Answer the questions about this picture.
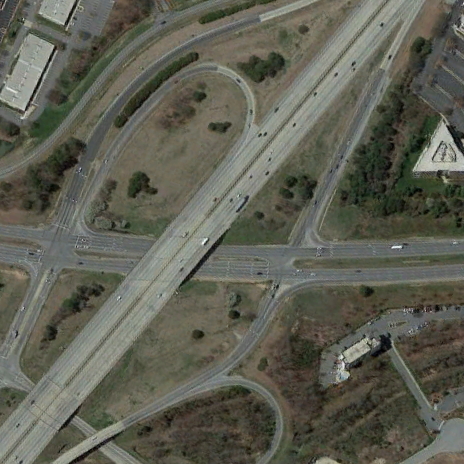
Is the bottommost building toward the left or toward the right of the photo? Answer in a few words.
right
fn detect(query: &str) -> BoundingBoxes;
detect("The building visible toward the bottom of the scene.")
[339,338,380,373]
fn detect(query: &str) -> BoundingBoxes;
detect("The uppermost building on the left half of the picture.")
[39,0,80,31]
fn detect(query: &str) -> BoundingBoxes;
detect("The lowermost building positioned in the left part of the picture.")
[0,33,55,117]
